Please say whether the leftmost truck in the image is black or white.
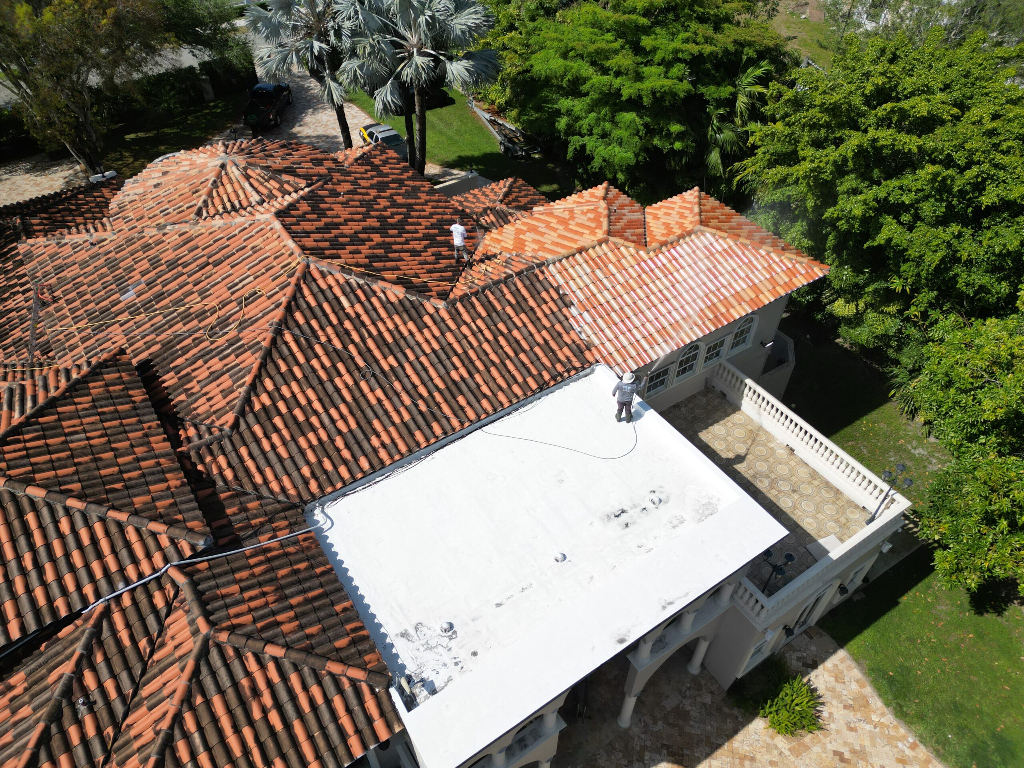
black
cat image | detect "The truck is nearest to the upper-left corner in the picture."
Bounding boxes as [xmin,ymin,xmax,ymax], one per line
[246,83,298,127]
